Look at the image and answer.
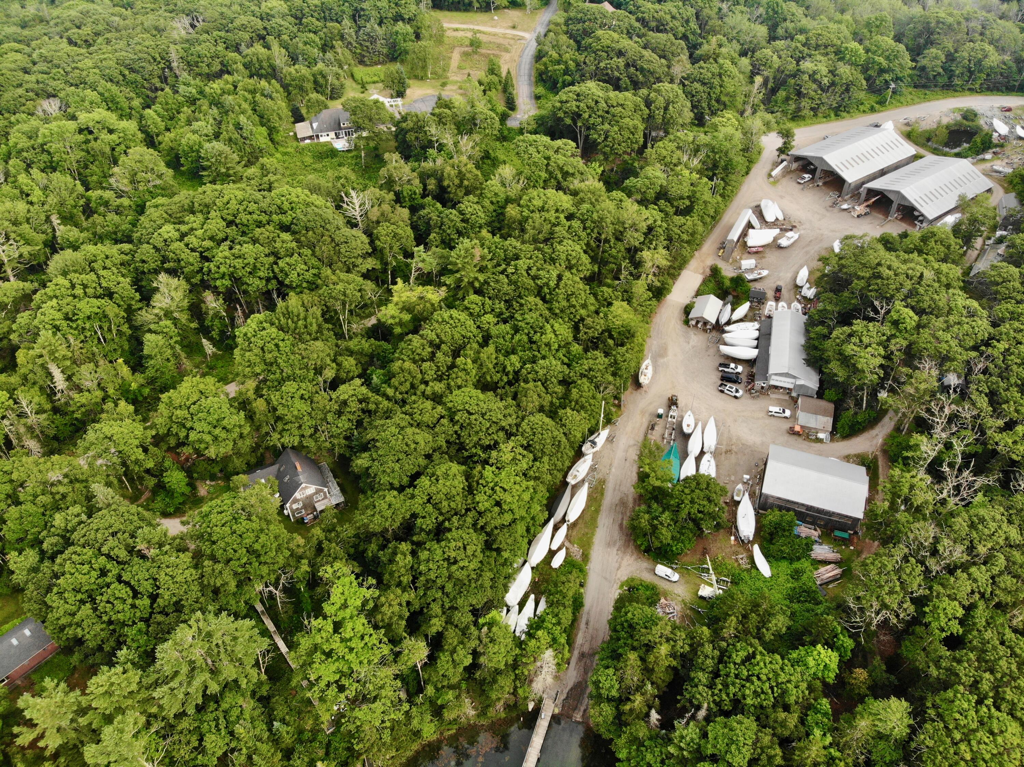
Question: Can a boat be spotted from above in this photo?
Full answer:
Yes, a boat is visible in the scene.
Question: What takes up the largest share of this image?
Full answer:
The bulk of the photo consists of trees.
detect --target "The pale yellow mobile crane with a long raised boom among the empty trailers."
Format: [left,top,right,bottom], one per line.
[695,554,721,602]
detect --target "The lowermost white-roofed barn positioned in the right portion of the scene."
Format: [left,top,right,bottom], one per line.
[755,444,869,533]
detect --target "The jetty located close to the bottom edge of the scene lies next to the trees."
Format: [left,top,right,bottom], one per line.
[522,687,560,767]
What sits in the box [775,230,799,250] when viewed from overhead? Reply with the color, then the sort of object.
white boat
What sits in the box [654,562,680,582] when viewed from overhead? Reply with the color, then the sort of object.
white vehicle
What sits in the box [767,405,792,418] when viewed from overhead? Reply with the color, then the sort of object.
white vehicle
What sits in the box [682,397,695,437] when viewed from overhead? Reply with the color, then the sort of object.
white boat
